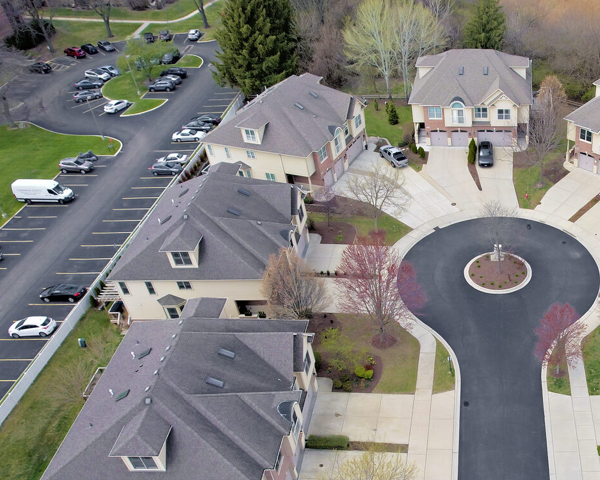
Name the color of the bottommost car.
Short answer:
white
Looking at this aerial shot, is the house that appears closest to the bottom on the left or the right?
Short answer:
left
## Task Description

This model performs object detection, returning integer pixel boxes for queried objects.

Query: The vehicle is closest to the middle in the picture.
[380,145,408,164]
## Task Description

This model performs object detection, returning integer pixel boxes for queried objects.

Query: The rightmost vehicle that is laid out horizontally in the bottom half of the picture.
[33,281,87,302]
